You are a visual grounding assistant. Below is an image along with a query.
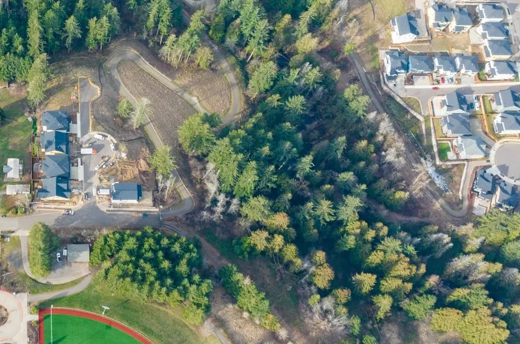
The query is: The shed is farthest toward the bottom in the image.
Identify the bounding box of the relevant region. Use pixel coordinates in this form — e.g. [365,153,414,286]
[66,244,91,264]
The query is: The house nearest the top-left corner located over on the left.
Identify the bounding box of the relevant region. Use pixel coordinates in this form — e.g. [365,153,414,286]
[44,110,68,133]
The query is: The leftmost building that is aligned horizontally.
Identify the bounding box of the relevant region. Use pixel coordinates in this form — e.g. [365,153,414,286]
[6,184,31,196]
